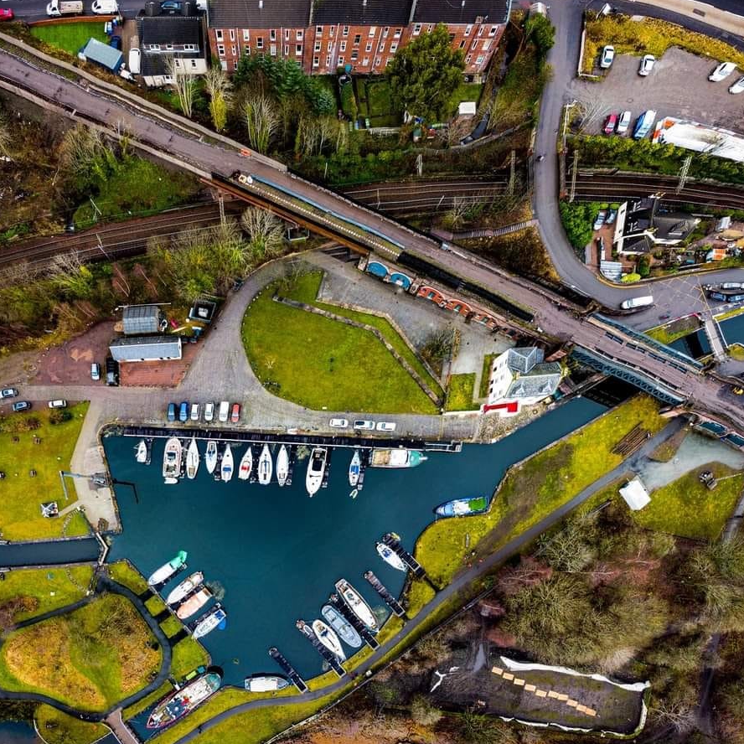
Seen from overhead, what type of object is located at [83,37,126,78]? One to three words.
shed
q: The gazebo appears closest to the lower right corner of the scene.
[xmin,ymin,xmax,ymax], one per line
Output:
[613,479,651,511]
